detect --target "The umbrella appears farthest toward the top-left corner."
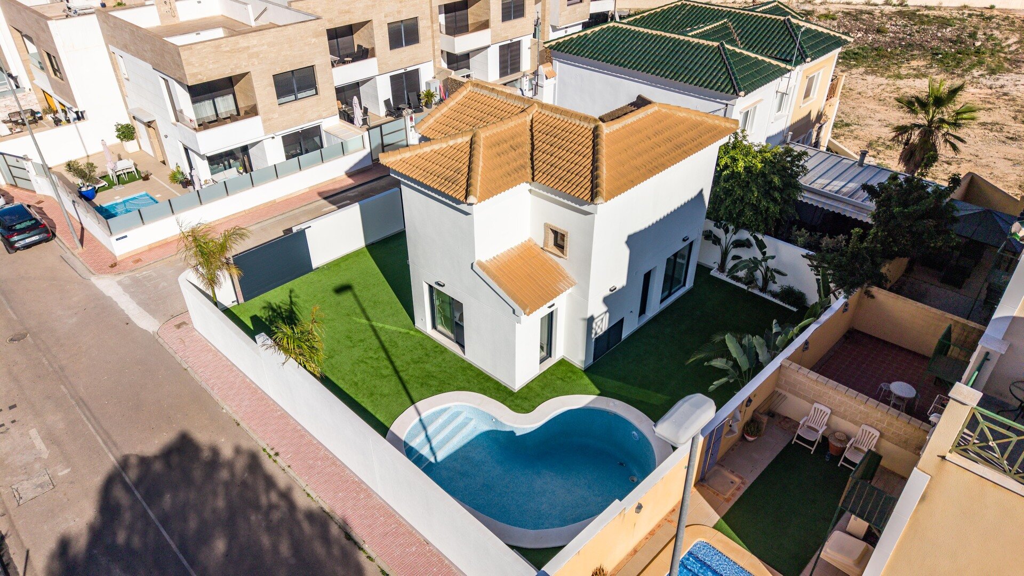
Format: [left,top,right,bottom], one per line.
[98,140,127,191]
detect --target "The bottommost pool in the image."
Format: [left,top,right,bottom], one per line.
[673,524,776,576]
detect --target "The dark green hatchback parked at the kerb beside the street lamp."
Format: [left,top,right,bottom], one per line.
[0,197,50,252]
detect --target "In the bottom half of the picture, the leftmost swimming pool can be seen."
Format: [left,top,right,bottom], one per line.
[387,392,670,549]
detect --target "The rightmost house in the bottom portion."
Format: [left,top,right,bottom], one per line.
[859,197,1024,576]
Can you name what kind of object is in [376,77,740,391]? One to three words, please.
house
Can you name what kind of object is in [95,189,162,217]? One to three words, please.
swimming pool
